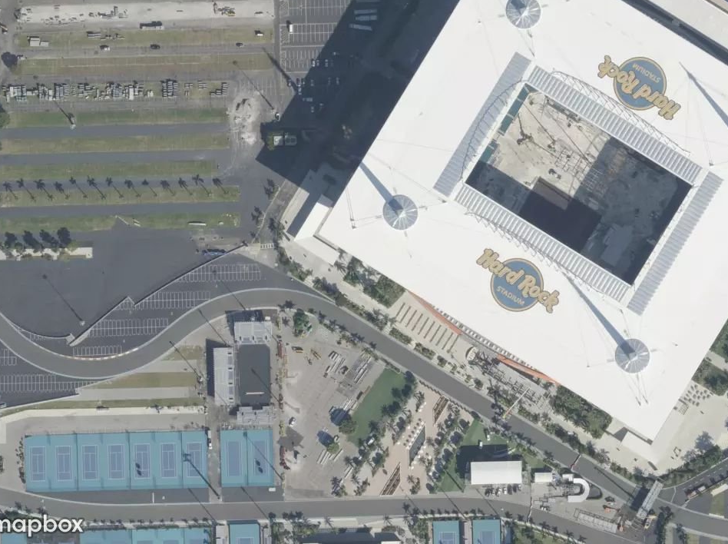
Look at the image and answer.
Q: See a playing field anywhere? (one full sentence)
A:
Yes, I can see a playing field in this picture.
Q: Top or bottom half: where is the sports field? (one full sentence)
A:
The sports field sits in the top half of the picture.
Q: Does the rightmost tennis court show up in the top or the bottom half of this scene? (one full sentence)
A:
The bottom half of the photo is where the rightmost tennis court is.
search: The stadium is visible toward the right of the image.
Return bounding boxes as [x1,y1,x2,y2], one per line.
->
[294,0,728,464]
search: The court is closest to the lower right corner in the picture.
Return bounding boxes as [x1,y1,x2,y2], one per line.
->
[473,519,500,544]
